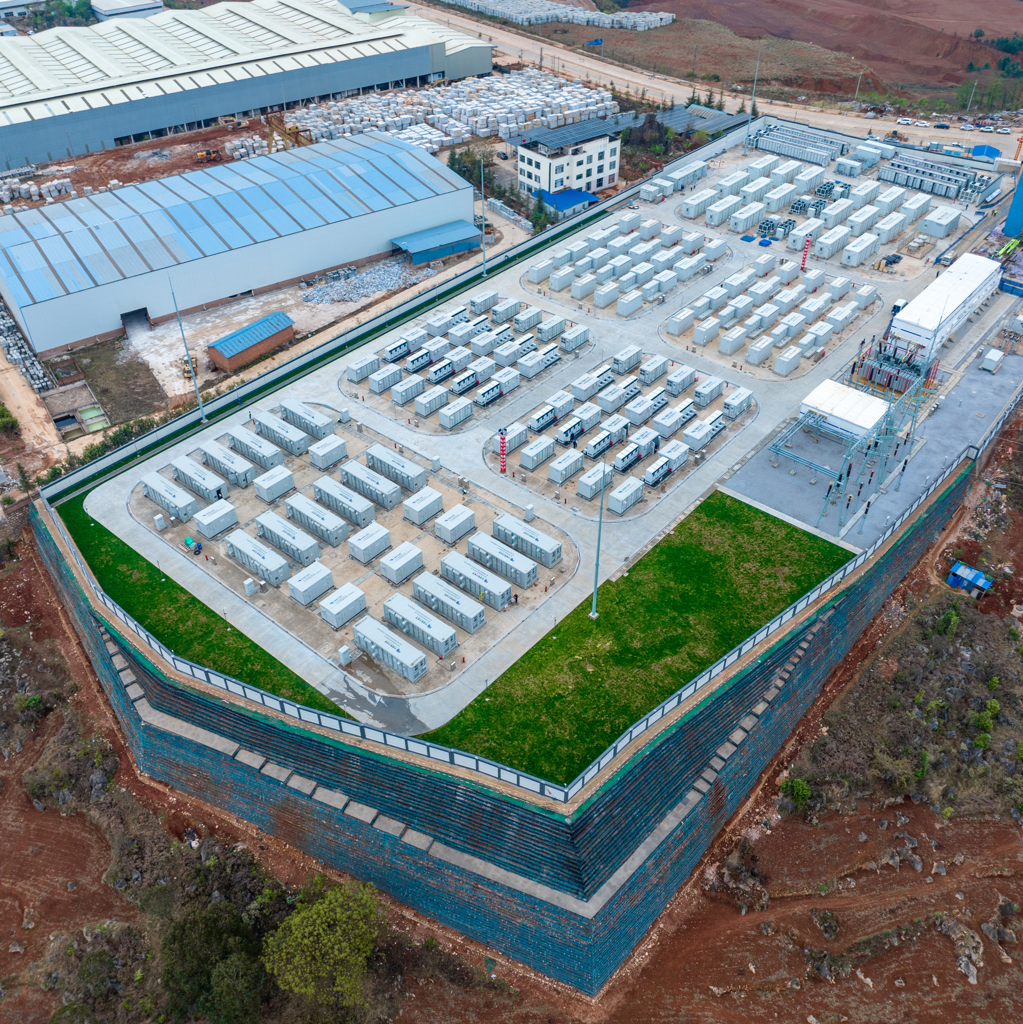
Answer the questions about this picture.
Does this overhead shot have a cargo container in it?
Yes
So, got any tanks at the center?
No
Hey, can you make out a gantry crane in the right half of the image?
No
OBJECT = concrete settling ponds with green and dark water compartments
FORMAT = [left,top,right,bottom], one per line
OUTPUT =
[40,379,112,443]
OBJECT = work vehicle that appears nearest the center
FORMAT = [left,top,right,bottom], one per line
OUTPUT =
[478,219,500,235]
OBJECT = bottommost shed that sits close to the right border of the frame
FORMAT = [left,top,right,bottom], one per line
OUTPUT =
[946,554,997,598]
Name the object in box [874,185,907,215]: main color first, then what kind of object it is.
white shipping container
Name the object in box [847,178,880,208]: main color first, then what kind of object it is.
white shipping container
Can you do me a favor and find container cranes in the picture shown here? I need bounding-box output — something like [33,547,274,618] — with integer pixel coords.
[265,109,320,148]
